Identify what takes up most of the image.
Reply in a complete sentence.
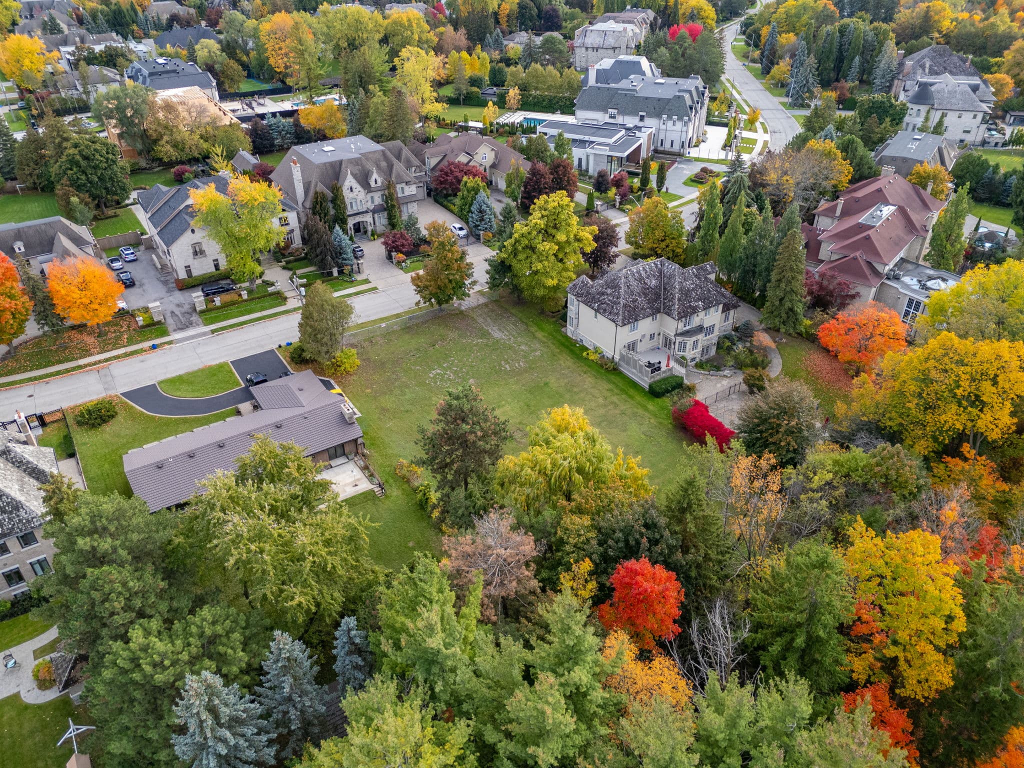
What you mostly see from above here is trees.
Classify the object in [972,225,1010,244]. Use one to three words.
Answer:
building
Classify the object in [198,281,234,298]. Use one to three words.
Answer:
car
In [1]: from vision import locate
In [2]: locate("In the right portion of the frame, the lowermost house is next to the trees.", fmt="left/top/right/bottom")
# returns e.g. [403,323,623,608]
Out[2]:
[565,250,742,389]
